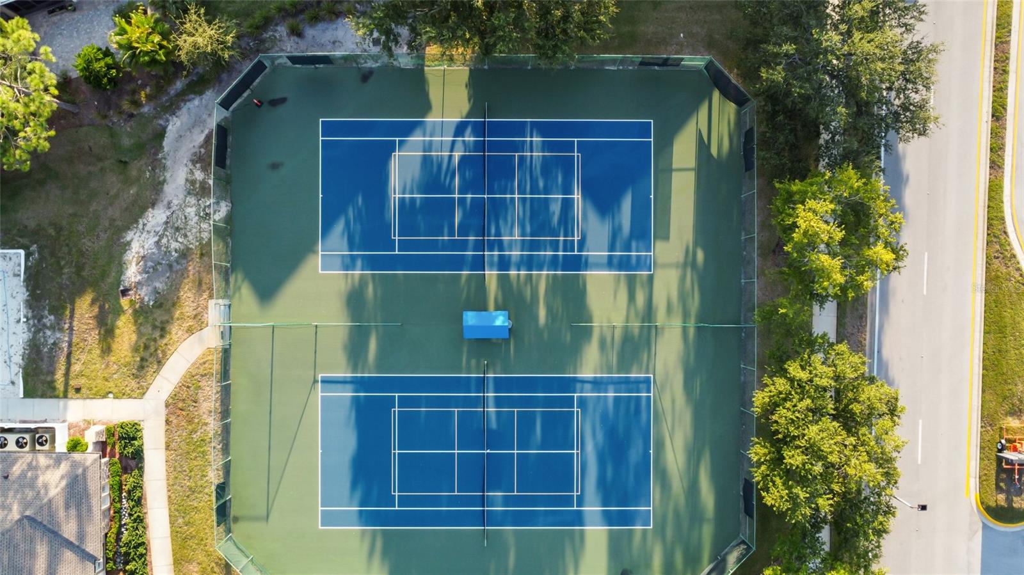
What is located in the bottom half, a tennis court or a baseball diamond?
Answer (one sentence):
The feature located in the bottom half is a tennis court.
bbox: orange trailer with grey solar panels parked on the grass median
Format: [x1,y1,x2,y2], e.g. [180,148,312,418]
[996,424,1024,488]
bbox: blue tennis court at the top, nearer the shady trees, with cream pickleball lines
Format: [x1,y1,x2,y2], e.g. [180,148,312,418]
[320,119,652,273]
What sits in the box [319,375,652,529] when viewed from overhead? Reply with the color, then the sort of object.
blue tennis court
